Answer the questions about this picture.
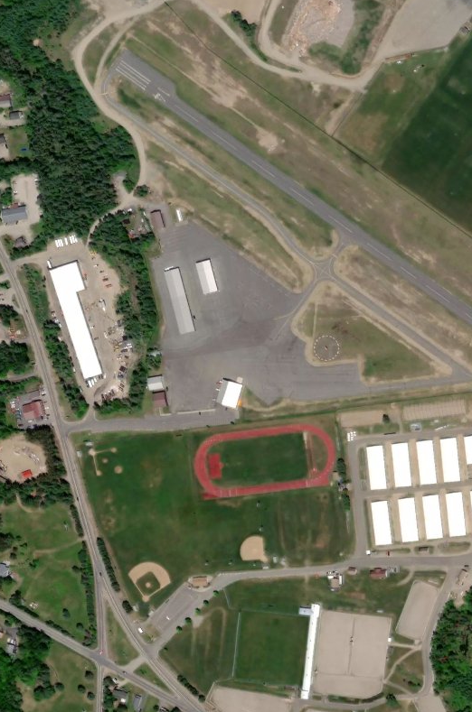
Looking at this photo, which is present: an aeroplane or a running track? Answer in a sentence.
It is a running track that can be seen here.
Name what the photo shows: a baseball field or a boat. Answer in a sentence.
The one in the frame is a baseball field.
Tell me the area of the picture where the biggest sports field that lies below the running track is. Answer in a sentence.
You can find the biggest sports field that lies below the running track in the bottom area of the picture.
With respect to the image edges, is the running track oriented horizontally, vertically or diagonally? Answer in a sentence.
From this overhead view, the running track appears to run horizontally.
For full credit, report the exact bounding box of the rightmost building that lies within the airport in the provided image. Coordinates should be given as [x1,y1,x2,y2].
[219,381,243,408]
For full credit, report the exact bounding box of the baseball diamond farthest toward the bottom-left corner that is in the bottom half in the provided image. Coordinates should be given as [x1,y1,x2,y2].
[129,562,171,603]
